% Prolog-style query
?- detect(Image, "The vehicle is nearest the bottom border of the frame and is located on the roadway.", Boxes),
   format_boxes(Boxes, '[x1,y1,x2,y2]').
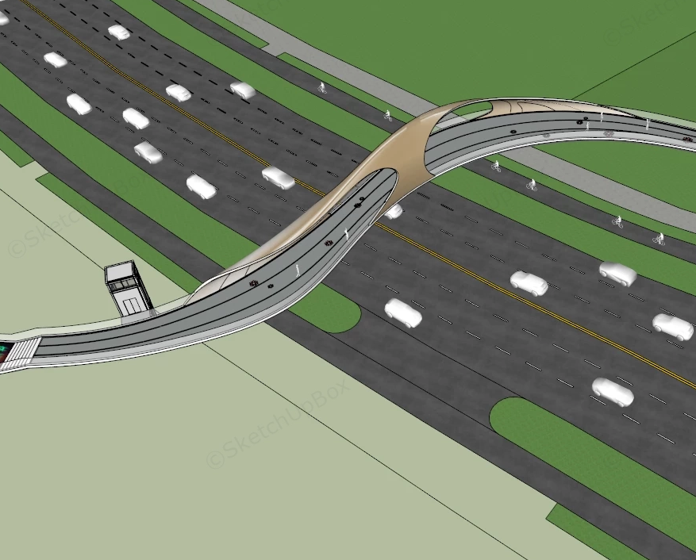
[593,379,634,409]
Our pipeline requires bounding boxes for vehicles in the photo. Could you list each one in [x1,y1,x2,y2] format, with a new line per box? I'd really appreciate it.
[135,142,162,163]
[510,271,548,295]
[263,167,294,189]
[0,13,8,24]
[230,82,257,99]
[66,93,92,113]
[385,299,422,328]
[109,24,130,40]
[166,85,191,101]
[653,314,695,342]
[44,50,66,69]
[593,379,634,409]
[600,263,639,287]
[123,108,149,129]
[187,175,216,199]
